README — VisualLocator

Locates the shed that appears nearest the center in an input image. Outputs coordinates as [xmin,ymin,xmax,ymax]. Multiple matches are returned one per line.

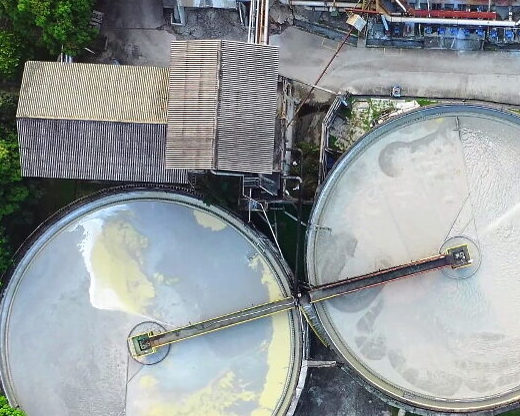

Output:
[166,38,280,174]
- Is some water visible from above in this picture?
Yes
